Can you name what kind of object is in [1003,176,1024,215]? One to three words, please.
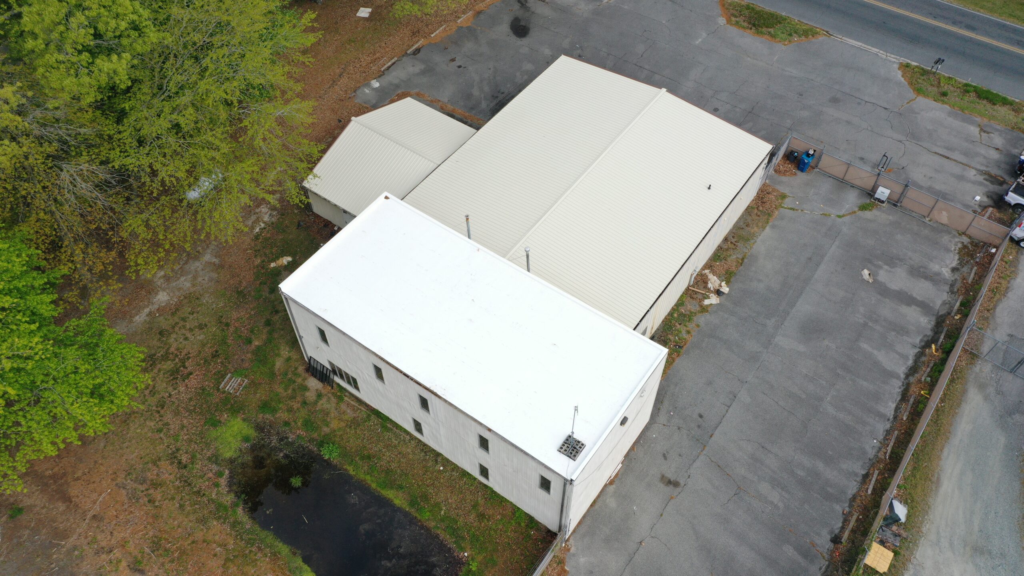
truck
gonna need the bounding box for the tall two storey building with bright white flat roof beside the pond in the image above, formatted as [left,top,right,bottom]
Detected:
[277,191,669,538]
